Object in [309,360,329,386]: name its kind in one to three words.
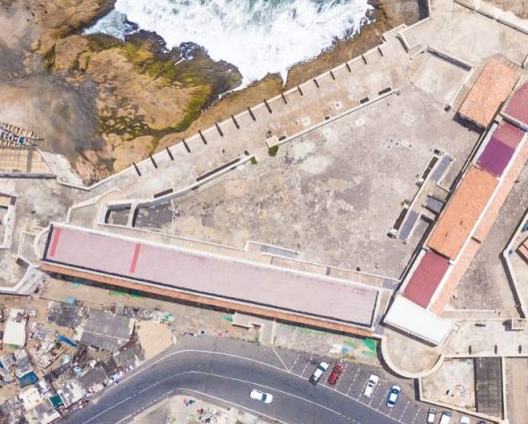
car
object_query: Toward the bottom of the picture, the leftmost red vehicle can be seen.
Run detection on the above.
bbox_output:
[327,363,343,386]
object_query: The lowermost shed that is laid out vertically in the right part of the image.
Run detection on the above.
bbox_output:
[476,357,501,416]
